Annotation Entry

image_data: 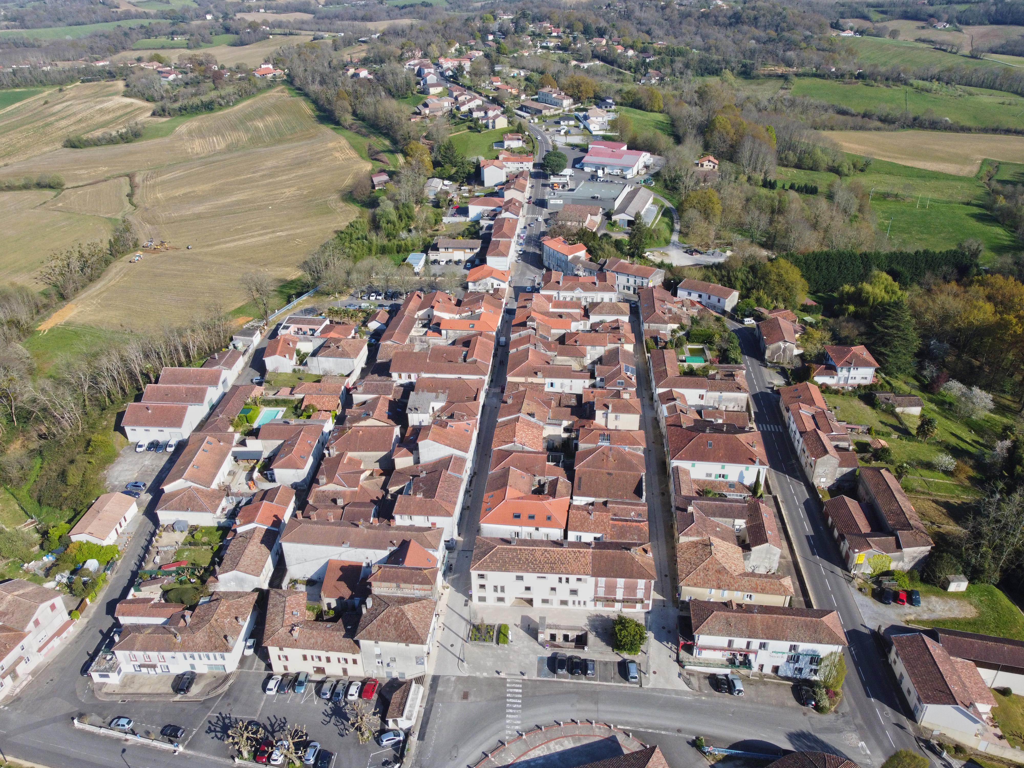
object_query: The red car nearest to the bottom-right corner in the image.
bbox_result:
[897,588,909,604]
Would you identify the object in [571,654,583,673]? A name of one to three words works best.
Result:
vehicle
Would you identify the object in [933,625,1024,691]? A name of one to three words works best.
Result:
barn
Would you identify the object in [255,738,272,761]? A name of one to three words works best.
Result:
car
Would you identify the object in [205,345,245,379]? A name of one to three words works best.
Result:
house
